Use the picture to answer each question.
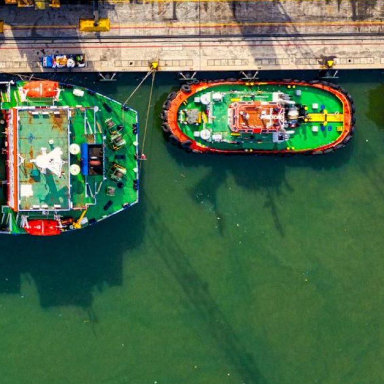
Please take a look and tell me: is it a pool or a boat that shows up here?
boat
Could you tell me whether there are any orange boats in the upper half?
Yes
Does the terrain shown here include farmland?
No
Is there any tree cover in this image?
No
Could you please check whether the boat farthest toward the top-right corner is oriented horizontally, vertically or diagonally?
horizontally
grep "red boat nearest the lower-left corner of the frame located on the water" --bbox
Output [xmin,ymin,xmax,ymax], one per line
[24,218,61,236]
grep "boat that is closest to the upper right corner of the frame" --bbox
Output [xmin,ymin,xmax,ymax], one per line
[155,77,356,156]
